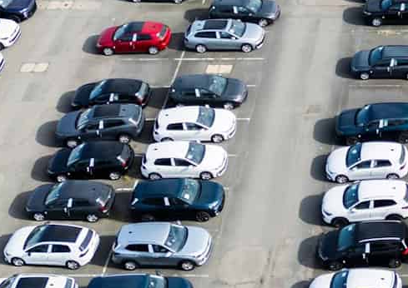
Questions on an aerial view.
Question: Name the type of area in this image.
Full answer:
The picture captures a parking lot.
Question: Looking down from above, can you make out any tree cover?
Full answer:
No, there is no tree cover in the image.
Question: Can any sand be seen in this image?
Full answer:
No, no sand is visible.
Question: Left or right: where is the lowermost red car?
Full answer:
The lowermost red car appears in the left half of the scene.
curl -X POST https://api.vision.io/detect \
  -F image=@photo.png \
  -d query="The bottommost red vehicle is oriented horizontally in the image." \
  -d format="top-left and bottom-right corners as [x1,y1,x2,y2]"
[96,20,173,55]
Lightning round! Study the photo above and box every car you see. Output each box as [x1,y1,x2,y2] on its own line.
[325,141,408,182]
[1,222,98,268]
[308,266,403,288]
[155,105,238,143]
[317,221,408,270]
[334,104,408,145]
[209,0,283,27]
[71,77,154,112]
[349,46,408,81]
[0,14,26,49]
[141,140,229,181]
[364,0,408,27]
[46,139,133,179]
[0,0,42,22]
[186,18,267,54]
[97,271,196,288]
[96,20,173,55]
[24,178,116,221]
[115,222,215,271]
[168,73,250,110]
[320,180,408,225]
[54,102,139,141]
[131,178,229,224]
